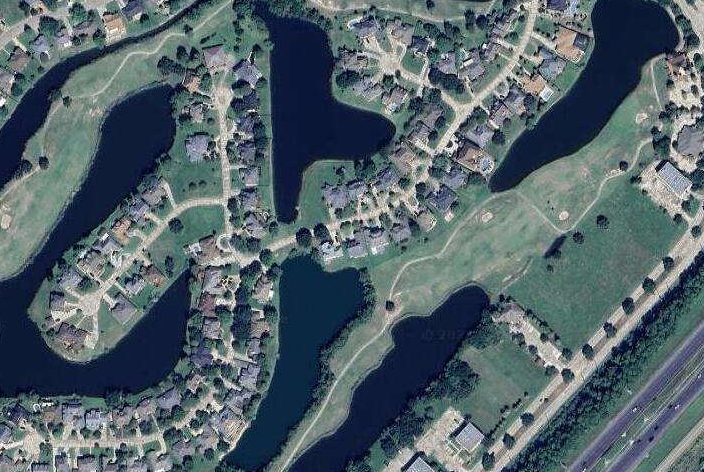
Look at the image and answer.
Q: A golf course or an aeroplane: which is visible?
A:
golf course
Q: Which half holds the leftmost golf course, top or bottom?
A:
top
